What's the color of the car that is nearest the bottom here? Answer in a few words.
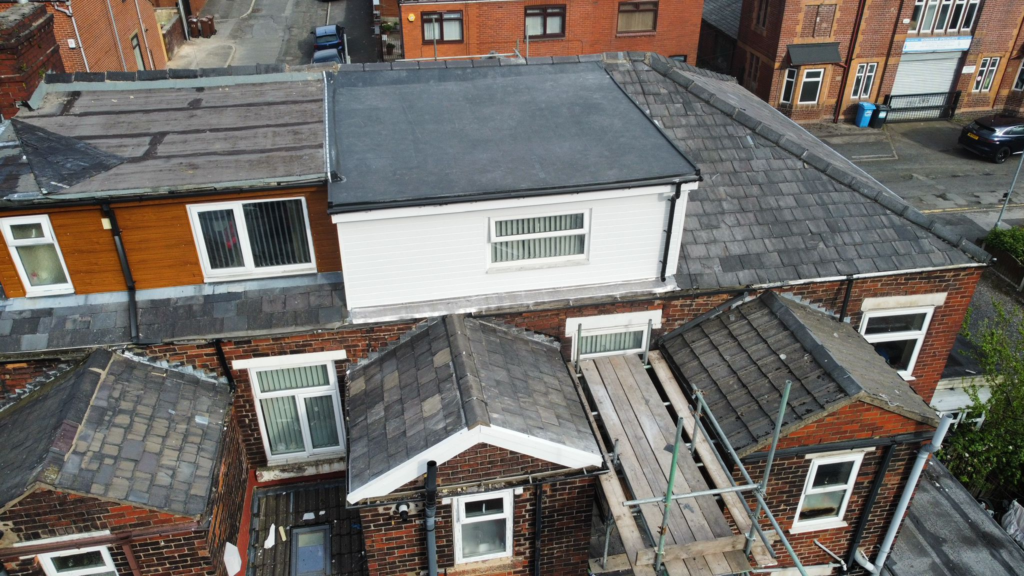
black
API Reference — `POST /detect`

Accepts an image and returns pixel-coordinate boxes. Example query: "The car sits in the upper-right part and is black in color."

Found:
[958,109,1024,163]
